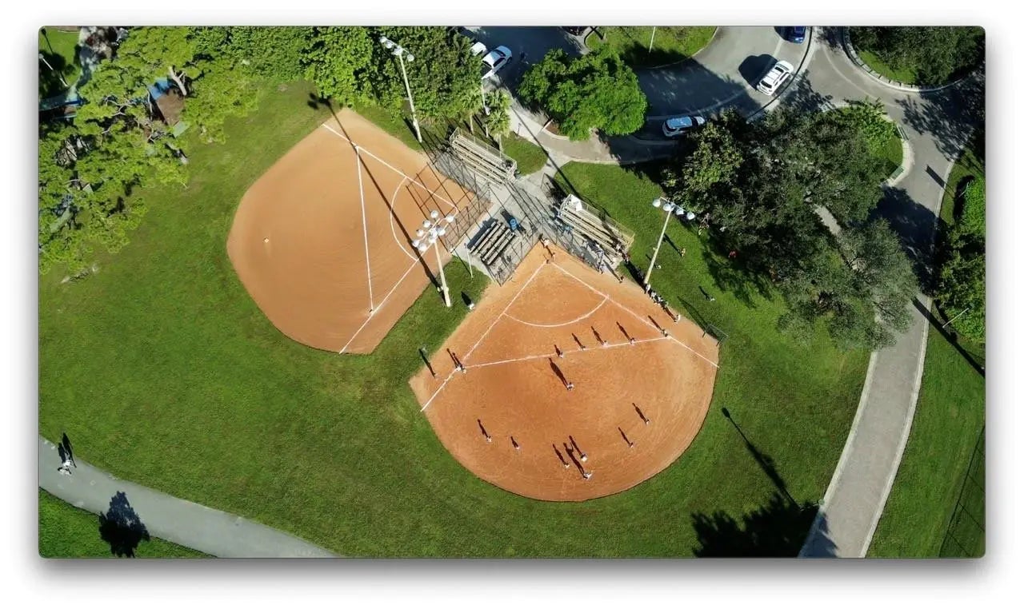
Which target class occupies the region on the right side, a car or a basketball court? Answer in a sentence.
You can see a car on the right side.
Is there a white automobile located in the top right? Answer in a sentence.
Yes, a white automobile appears in the top right.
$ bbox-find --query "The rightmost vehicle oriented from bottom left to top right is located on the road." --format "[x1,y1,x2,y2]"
[756,63,792,97]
